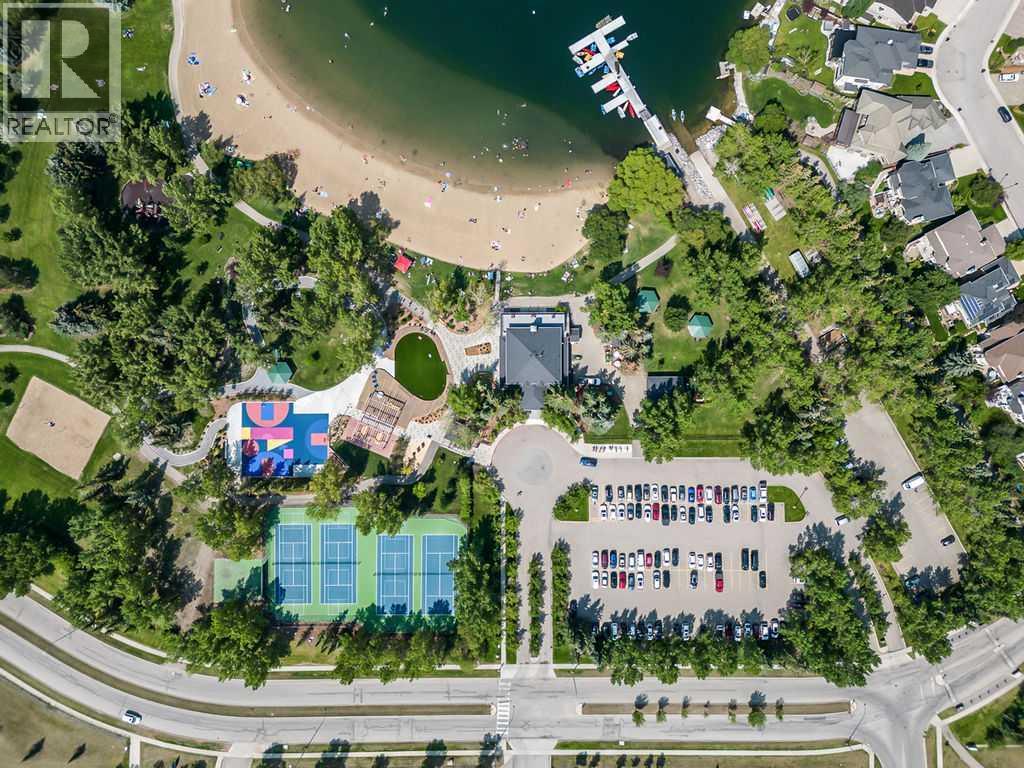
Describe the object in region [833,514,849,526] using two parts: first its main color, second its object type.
white vehicle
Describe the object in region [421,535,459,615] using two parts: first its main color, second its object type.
blue tennis court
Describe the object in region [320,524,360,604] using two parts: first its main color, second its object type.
blue tennis court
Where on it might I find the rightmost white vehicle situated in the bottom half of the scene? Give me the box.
[903,475,923,489]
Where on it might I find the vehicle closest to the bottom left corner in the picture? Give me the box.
[124,711,141,723]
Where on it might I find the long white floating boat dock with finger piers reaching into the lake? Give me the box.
[569,14,676,158]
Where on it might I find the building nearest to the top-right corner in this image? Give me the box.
[870,0,942,31]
